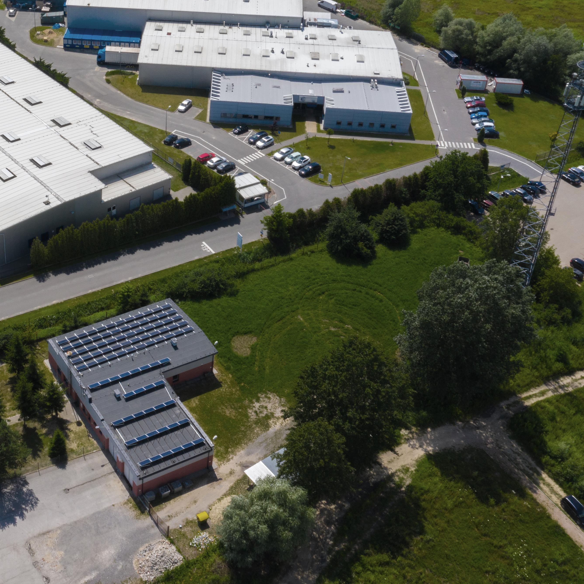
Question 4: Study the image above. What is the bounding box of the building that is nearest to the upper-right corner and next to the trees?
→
[492,75,524,93]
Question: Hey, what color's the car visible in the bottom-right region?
black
